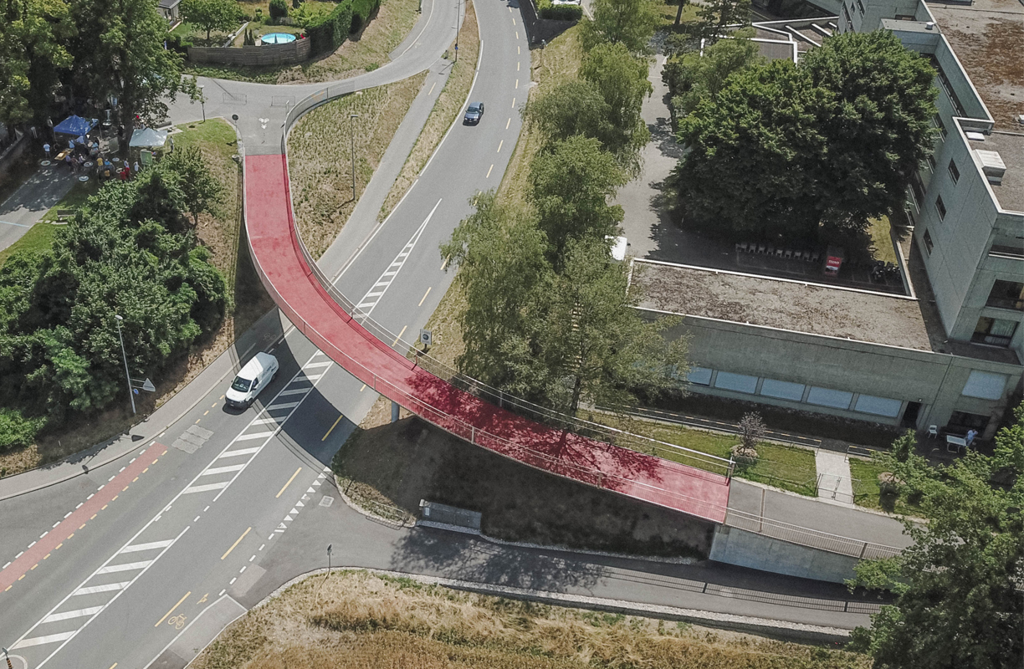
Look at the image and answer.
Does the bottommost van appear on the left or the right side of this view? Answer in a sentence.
The bottommost van appears in the left half of the scene.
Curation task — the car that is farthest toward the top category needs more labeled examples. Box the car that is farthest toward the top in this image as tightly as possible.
[464,99,485,123]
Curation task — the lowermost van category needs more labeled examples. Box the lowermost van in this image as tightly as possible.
[220,344,282,408]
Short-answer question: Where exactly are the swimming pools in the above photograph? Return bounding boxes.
[258,32,299,48]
